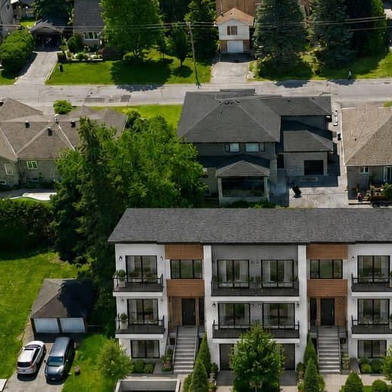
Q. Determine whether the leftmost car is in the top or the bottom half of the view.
bottom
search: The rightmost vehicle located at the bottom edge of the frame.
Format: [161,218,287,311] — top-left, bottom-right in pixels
[41,332,76,380]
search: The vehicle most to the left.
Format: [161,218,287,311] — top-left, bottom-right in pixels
[14,338,49,376]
